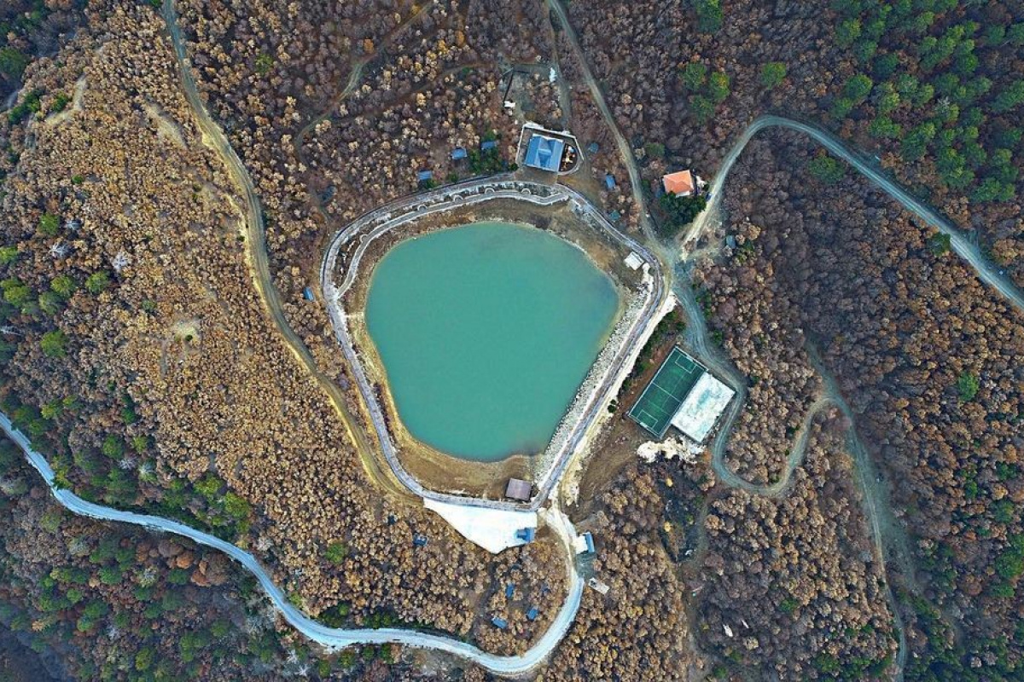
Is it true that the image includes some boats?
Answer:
No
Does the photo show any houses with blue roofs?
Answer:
Yes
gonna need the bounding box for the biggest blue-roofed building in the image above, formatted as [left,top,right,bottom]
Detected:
[525,133,565,173]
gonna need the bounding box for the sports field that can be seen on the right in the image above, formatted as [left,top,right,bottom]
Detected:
[627,345,709,438]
